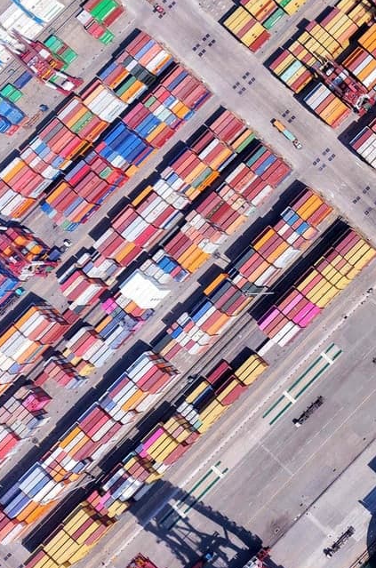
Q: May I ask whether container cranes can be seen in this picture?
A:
Yes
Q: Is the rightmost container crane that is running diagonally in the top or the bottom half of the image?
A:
top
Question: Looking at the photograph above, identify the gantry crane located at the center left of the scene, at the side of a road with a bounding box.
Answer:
[0,212,74,289]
